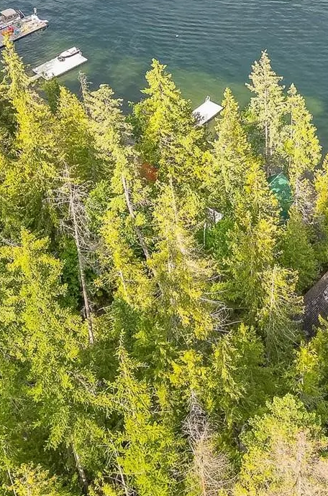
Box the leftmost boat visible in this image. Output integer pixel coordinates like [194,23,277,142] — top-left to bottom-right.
[0,3,34,29]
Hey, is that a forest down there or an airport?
forest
